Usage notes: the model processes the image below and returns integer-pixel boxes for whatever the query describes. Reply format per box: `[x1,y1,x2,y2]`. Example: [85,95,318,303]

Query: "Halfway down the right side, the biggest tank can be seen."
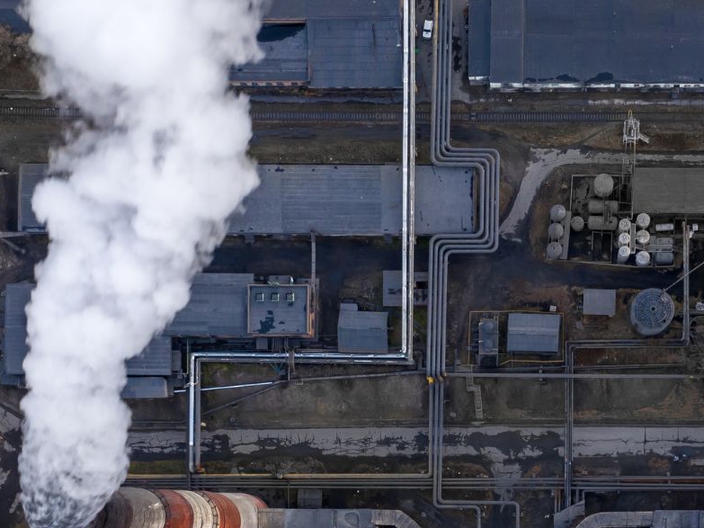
[630,289,673,335]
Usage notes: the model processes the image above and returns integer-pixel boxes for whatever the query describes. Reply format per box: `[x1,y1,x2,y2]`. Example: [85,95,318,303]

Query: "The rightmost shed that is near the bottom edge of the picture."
[553,502,584,528]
